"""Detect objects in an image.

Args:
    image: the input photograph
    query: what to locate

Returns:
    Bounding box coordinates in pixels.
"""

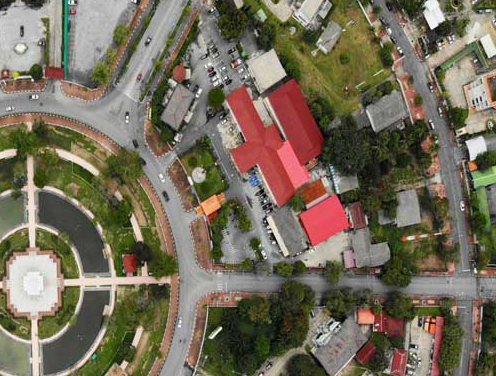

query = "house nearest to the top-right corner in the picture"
[476,34,496,61]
